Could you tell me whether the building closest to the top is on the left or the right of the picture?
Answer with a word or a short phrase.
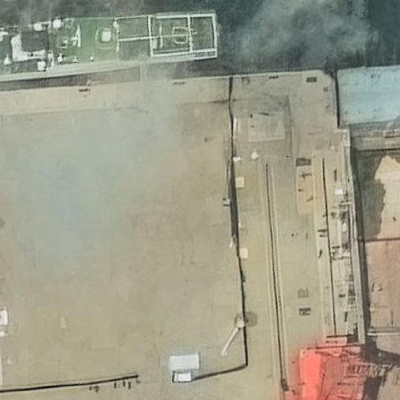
right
